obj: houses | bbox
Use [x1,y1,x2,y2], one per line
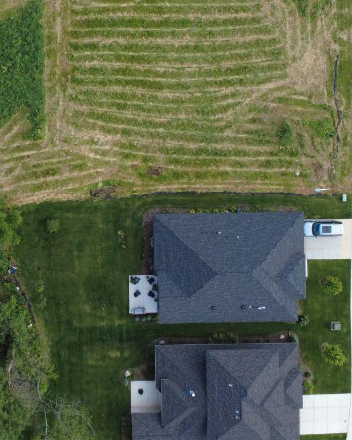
[153,212,308,324]
[131,342,302,440]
